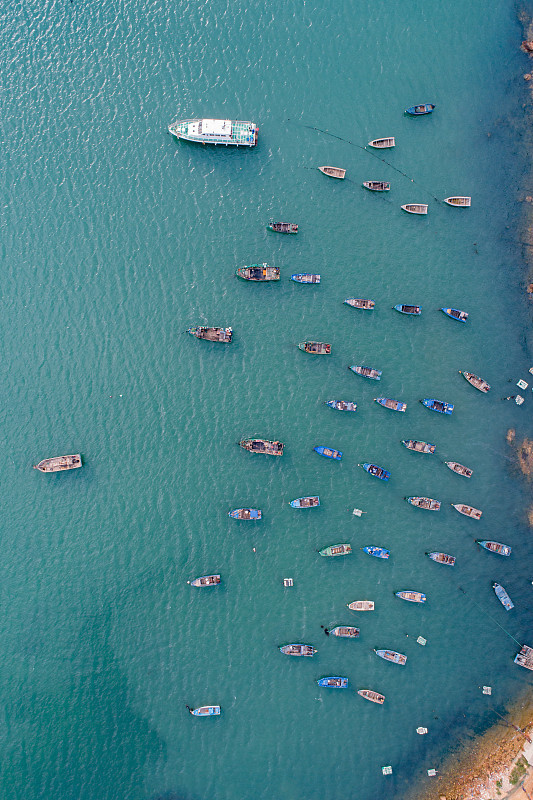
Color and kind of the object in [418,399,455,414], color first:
blue boat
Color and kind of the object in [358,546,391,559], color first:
blue boat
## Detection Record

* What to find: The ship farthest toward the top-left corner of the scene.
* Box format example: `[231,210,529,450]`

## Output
[168,118,257,149]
